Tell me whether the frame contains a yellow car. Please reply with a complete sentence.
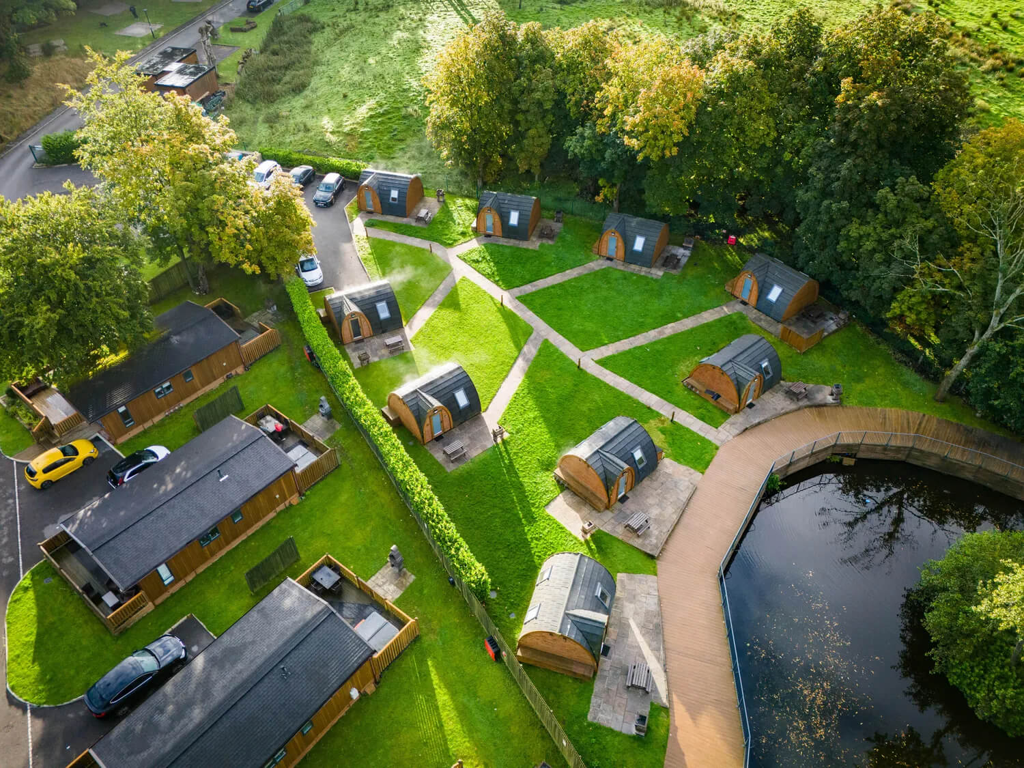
Yes, the photo shows a yellow car.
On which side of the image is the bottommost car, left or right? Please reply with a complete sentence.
The bottommost car appears in the left half of the scene.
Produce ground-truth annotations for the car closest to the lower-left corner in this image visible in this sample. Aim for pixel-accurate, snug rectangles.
[88,634,191,710]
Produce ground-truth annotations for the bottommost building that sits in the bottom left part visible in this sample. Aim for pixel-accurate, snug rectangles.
[89,578,377,768]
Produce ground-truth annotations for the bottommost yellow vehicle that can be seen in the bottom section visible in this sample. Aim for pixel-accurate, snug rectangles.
[28,439,98,486]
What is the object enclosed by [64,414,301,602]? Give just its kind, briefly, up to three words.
building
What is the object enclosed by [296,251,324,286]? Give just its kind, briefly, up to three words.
car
